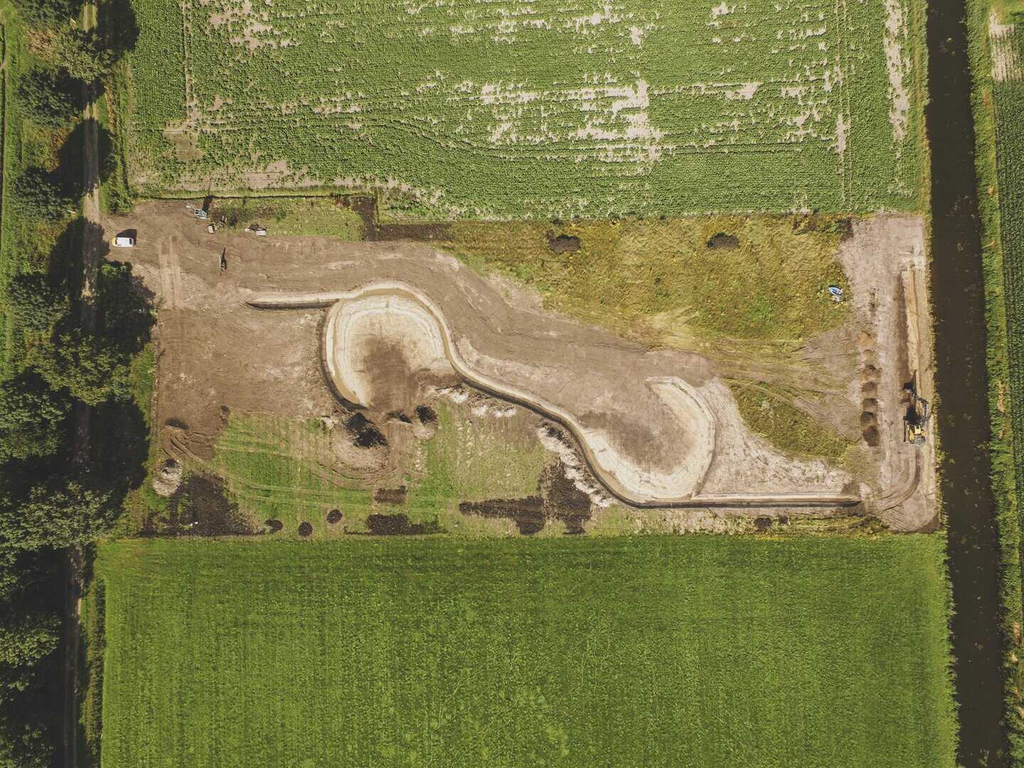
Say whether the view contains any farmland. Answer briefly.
Yes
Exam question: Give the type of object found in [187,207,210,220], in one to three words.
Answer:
vehicle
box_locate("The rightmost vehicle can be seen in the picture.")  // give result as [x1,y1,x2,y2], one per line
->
[903,388,932,443]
